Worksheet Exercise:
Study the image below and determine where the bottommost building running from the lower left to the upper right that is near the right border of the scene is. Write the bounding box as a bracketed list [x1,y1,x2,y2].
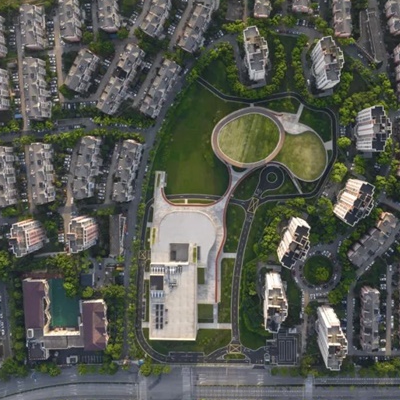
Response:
[342,209,395,267]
